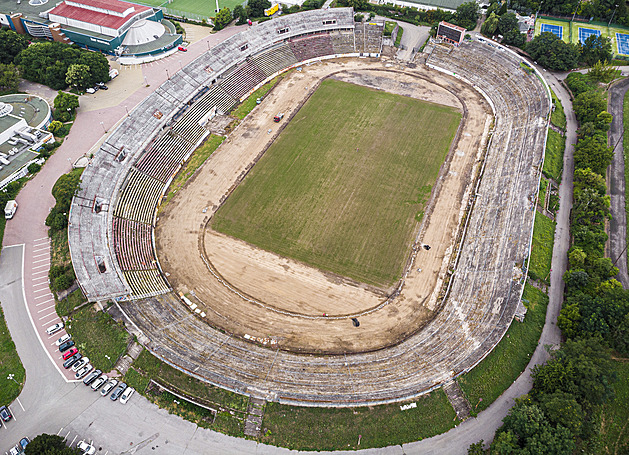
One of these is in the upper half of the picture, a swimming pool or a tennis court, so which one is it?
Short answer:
tennis court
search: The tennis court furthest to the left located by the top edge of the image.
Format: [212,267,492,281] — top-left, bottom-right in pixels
[532,18,569,47]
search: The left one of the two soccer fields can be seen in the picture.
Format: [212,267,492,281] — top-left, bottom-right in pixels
[164,0,256,20]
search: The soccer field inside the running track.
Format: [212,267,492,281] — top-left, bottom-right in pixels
[207,80,464,289]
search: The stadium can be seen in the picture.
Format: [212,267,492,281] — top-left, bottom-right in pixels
[68,7,552,407]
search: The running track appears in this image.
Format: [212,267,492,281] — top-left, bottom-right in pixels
[153,42,494,352]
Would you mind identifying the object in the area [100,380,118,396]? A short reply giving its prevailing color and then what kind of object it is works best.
white car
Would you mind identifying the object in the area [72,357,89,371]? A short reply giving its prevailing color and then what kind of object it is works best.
white vehicle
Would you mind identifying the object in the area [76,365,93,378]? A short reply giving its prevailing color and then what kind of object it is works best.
white vehicle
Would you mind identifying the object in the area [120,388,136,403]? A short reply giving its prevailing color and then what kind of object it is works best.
white car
